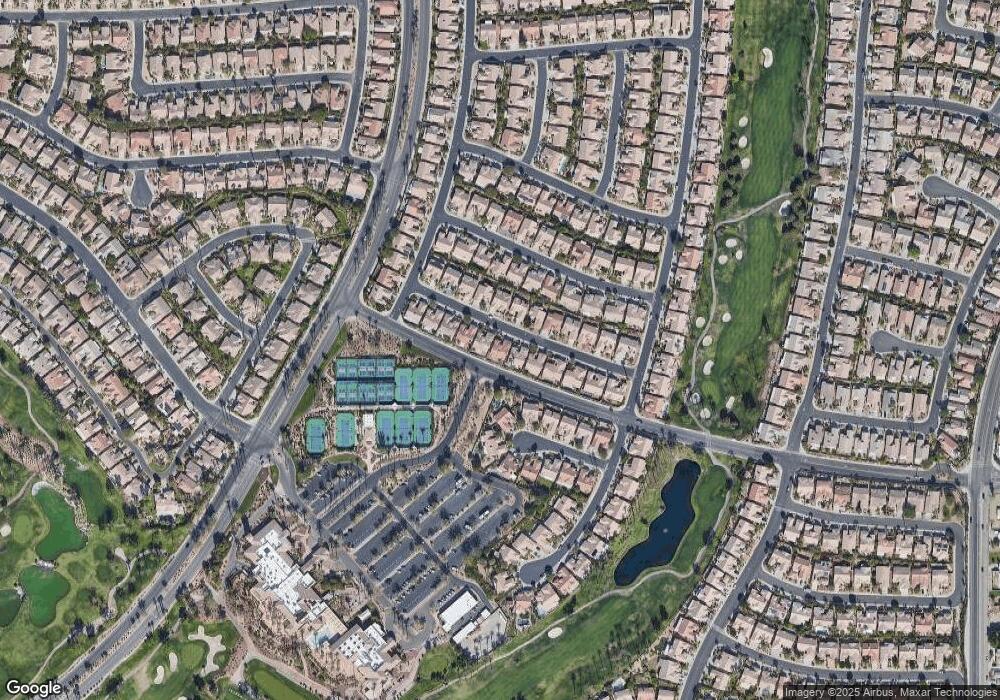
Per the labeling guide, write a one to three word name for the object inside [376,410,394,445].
tennis court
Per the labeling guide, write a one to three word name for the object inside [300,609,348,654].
swimming pool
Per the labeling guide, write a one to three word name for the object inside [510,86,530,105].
house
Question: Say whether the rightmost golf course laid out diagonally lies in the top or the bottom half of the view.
bottom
